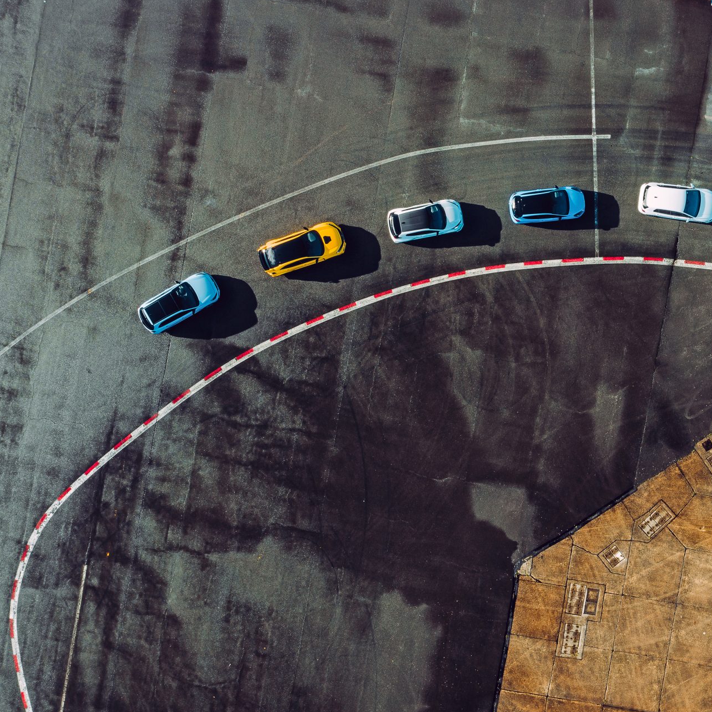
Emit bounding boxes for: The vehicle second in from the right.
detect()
[508,182,585,226]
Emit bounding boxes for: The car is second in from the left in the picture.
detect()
[258,222,346,277]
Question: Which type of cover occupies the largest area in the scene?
paved ground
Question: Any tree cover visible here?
No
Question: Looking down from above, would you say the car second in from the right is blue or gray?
blue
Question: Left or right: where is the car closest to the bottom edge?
left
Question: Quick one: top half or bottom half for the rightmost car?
top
